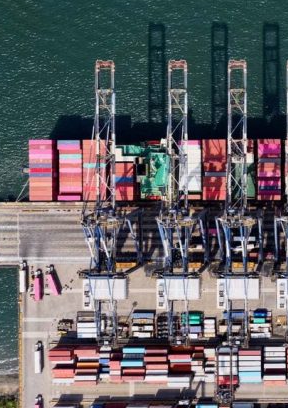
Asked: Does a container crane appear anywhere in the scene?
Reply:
Yes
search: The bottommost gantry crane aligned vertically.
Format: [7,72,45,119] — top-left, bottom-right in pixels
[215,338,238,404]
